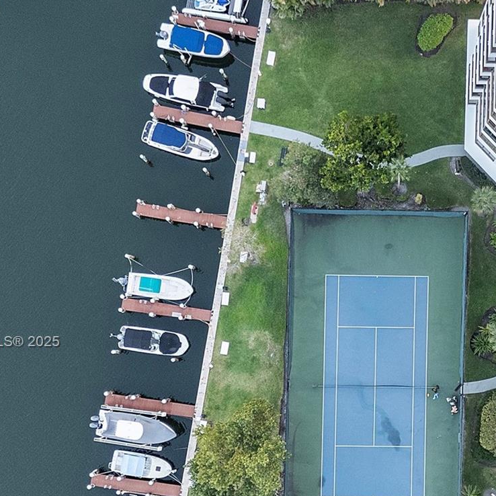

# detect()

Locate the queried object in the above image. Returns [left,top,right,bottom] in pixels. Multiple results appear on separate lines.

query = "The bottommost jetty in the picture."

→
[90,474,182,496]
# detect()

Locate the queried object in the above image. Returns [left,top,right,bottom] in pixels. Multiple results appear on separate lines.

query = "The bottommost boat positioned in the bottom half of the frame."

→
[109,448,175,478]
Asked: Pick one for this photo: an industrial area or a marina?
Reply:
marina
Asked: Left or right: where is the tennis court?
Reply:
right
